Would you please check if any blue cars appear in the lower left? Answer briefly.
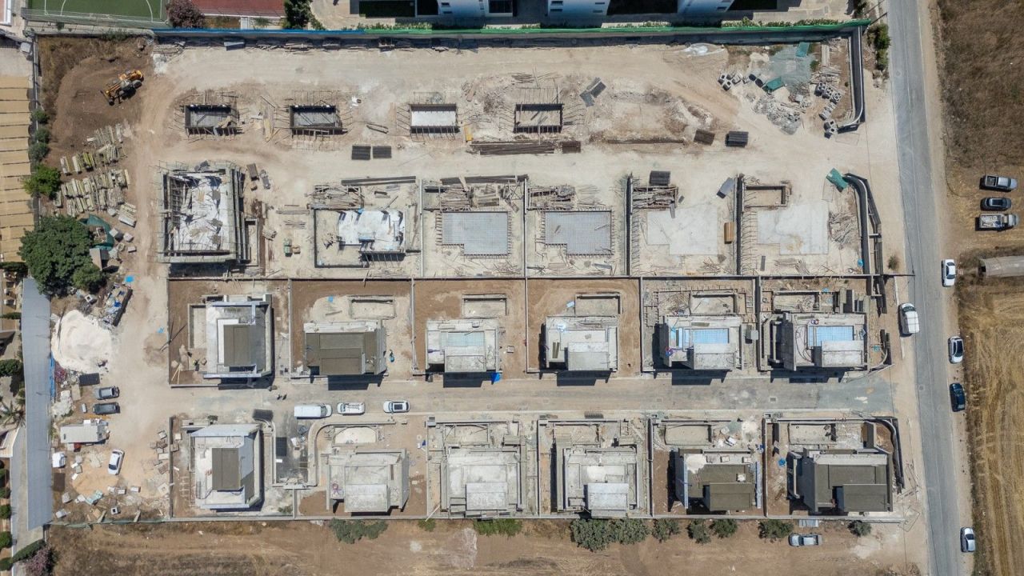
No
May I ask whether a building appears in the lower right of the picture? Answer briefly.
Yes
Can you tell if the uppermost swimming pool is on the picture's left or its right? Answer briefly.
right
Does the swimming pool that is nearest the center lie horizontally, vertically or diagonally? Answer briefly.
horizontally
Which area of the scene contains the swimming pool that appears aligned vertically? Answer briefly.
left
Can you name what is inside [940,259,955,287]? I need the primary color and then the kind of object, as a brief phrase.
white car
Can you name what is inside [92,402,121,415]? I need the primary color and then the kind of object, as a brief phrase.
gray vehicle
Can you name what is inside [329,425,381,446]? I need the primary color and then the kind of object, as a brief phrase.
white swimming pool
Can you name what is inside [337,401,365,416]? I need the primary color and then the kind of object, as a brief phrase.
white vehicle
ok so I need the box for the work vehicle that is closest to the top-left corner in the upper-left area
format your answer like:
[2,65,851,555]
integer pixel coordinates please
[104,70,145,105]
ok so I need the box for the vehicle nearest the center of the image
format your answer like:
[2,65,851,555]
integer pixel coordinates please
[384,400,410,414]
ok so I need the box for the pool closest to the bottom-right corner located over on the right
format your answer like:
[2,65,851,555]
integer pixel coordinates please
[786,422,833,444]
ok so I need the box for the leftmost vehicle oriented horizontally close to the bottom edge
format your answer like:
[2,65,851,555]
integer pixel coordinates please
[787,532,821,548]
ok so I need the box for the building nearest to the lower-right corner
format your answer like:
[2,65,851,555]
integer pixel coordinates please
[799,445,892,512]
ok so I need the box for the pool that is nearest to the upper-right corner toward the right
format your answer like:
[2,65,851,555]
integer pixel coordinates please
[741,185,789,207]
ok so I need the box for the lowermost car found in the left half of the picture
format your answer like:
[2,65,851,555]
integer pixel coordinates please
[108,448,127,475]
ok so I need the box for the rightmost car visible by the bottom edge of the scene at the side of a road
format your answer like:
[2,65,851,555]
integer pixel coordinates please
[959,526,975,552]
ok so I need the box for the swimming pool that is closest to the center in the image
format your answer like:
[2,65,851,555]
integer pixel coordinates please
[462,294,507,317]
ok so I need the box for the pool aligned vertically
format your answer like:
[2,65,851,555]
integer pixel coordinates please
[188,304,210,348]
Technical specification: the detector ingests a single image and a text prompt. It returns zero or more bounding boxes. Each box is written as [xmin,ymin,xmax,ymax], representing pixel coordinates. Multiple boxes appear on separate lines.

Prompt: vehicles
[959,526,975,552]
[947,382,964,411]
[899,303,920,335]
[384,400,410,414]
[787,532,821,548]
[940,259,955,287]
[947,337,963,363]
[92,402,121,415]
[292,404,332,420]
[108,448,127,475]
[980,198,1011,212]
[979,176,1015,191]
[104,70,145,105]
[337,401,365,416]
[94,386,122,400]
[979,214,1017,230]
